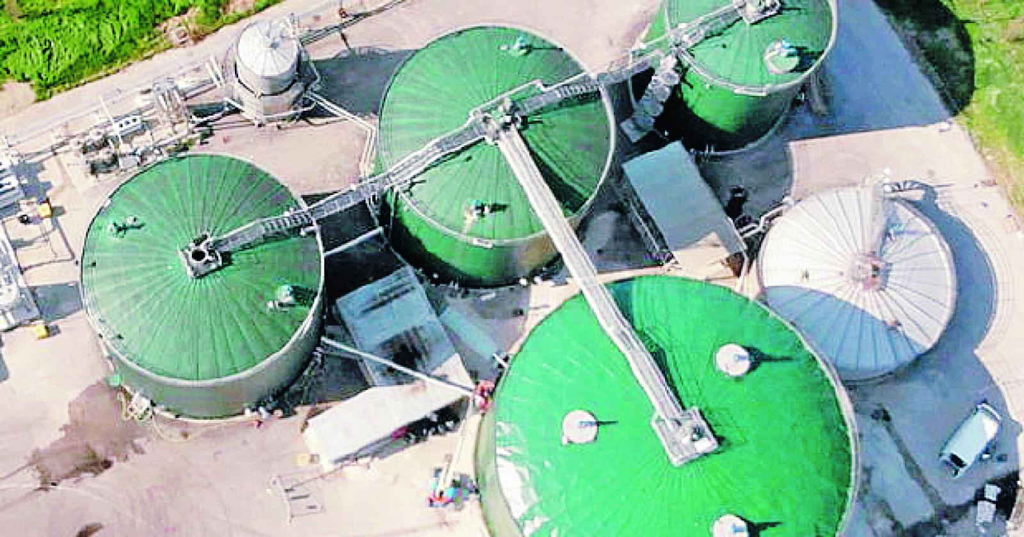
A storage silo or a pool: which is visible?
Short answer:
storage silo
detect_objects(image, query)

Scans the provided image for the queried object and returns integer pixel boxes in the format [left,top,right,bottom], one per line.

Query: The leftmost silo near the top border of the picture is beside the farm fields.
[228,6,314,132]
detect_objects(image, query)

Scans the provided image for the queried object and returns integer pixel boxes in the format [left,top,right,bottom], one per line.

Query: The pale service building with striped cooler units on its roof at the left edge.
[0,142,35,223]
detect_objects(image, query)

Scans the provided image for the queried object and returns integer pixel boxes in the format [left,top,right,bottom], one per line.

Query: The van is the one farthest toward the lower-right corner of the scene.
[938,403,1005,483]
